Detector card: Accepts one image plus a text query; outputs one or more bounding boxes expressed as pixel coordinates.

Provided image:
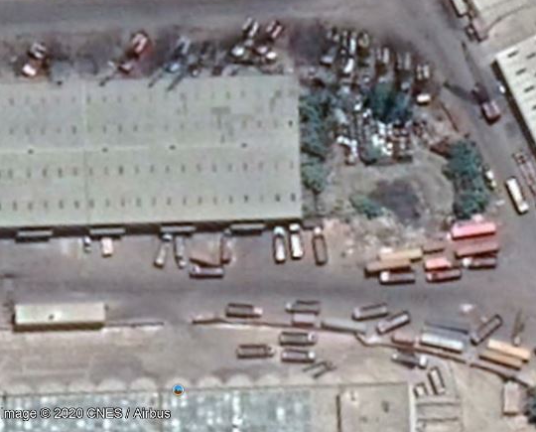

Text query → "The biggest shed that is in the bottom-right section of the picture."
[502,382,519,413]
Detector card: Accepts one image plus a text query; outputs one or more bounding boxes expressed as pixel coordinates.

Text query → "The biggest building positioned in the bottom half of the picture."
[14,302,103,325]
